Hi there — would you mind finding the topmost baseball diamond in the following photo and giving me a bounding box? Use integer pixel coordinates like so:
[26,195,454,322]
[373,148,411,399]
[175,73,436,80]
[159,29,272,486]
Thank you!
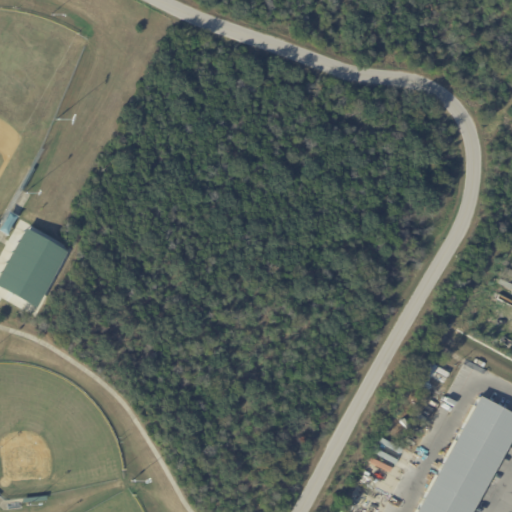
[0,9,86,216]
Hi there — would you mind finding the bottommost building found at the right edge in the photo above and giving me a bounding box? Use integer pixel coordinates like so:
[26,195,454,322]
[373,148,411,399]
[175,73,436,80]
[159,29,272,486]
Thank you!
[416,393,512,512]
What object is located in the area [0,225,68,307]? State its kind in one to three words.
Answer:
building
